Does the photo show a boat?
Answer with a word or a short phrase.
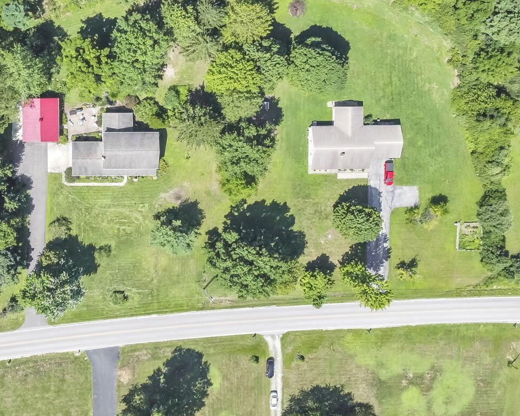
No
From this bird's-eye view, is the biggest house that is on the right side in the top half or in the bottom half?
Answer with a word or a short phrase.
top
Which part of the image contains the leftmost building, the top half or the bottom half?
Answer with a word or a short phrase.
top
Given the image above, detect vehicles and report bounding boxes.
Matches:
[384,161,395,186]
[265,358,276,379]
[270,391,279,411]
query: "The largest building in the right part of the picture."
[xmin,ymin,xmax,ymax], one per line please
[308,105,404,180]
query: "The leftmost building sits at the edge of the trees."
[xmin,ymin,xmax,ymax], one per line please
[23,98,60,143]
